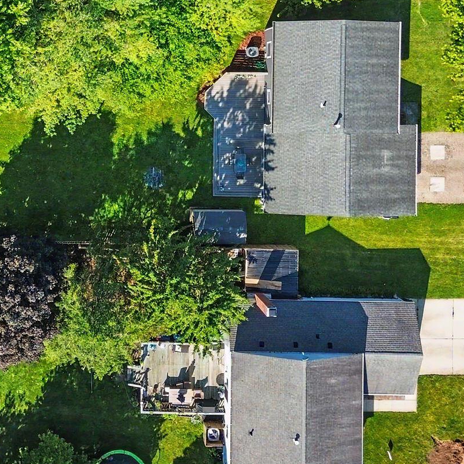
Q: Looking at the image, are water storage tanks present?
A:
No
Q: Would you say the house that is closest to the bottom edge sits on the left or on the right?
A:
right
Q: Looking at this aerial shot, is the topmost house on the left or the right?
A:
right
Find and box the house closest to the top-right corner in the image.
[260,20,418,218]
